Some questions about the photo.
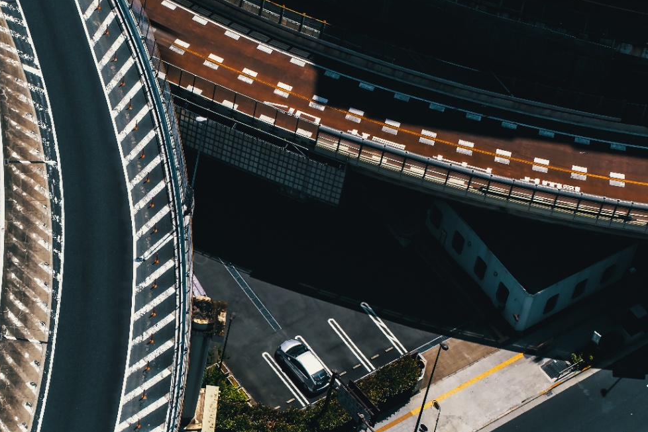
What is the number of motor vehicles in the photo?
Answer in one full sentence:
My tally gives 1 motor vehicle in this photo.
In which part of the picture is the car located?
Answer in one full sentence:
You can find the car in the bottom area of the picture.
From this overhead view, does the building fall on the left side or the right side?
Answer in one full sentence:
It is on the right.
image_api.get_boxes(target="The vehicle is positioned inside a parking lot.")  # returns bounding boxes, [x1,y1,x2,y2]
[280,339,327,394]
